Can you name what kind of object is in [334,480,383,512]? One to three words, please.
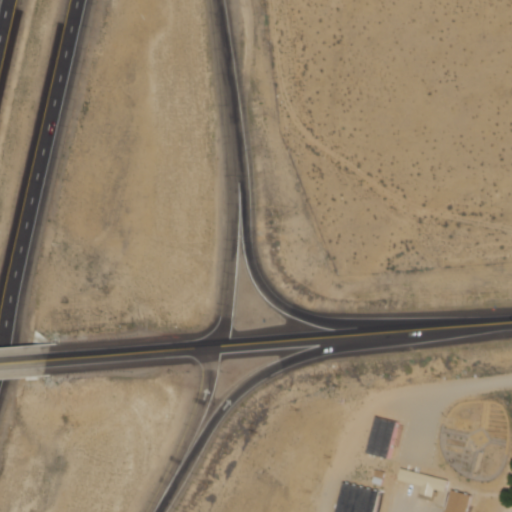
barn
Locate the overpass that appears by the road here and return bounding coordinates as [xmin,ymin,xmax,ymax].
[0,330,56,380]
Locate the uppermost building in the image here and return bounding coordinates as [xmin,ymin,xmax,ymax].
[366,415,403,458]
